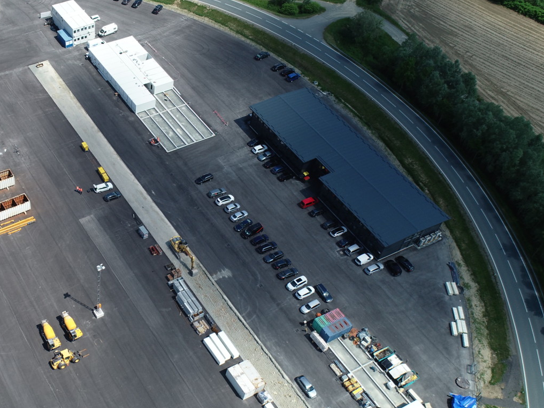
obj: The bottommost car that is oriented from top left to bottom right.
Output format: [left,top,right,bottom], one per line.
[293,374,319,398]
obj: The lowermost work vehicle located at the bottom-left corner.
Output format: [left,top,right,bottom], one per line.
[48,346,90,372]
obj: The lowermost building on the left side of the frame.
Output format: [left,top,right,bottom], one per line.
[87,36,174,113]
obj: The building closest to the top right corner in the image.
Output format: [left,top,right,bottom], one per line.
[244,89,450,260]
